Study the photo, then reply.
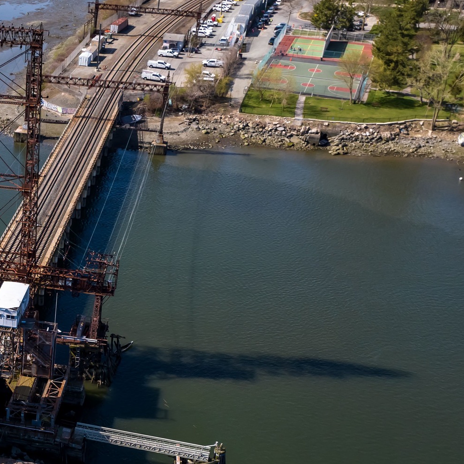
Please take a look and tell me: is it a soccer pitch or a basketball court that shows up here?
basketball court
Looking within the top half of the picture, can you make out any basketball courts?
Yes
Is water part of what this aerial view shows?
Yes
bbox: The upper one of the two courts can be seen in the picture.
[274,35,374,63]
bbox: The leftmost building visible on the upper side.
[162,25,189,47]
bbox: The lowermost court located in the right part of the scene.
[251,50,371,102]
